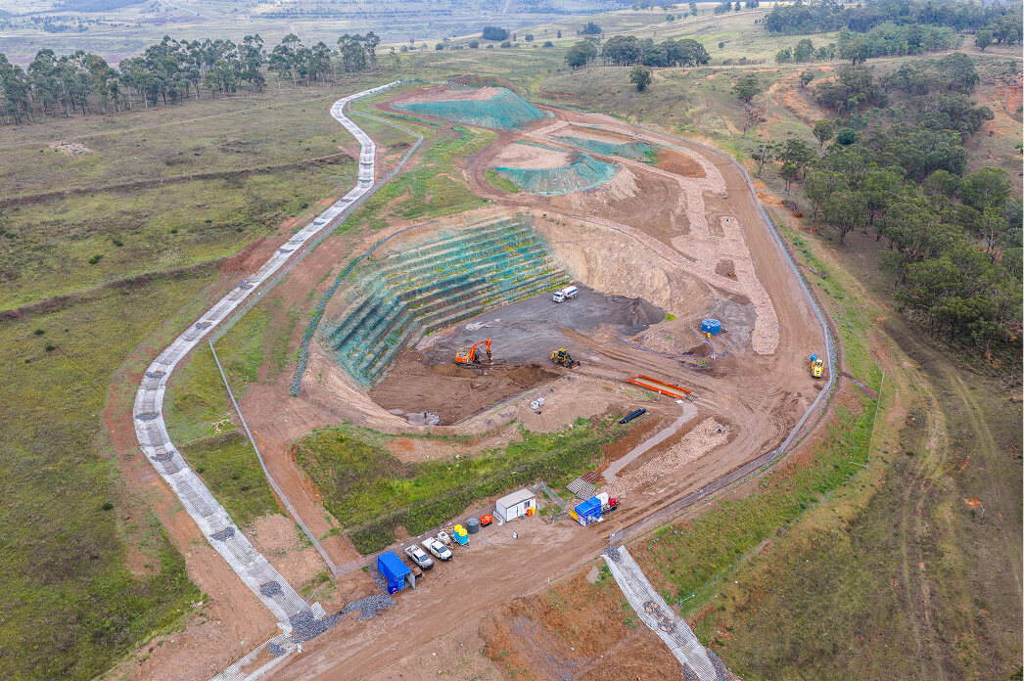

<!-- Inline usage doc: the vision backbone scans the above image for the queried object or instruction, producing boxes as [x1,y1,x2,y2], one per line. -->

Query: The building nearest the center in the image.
[494,488,536,522]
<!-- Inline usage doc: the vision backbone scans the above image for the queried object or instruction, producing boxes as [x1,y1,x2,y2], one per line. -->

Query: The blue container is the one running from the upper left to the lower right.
[376,552,414,592]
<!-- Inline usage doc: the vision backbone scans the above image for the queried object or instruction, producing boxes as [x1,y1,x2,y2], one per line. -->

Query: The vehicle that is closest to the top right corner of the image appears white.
[556,286,581,300]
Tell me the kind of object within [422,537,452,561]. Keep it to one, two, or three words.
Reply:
truck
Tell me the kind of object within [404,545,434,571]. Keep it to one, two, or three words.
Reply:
truck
